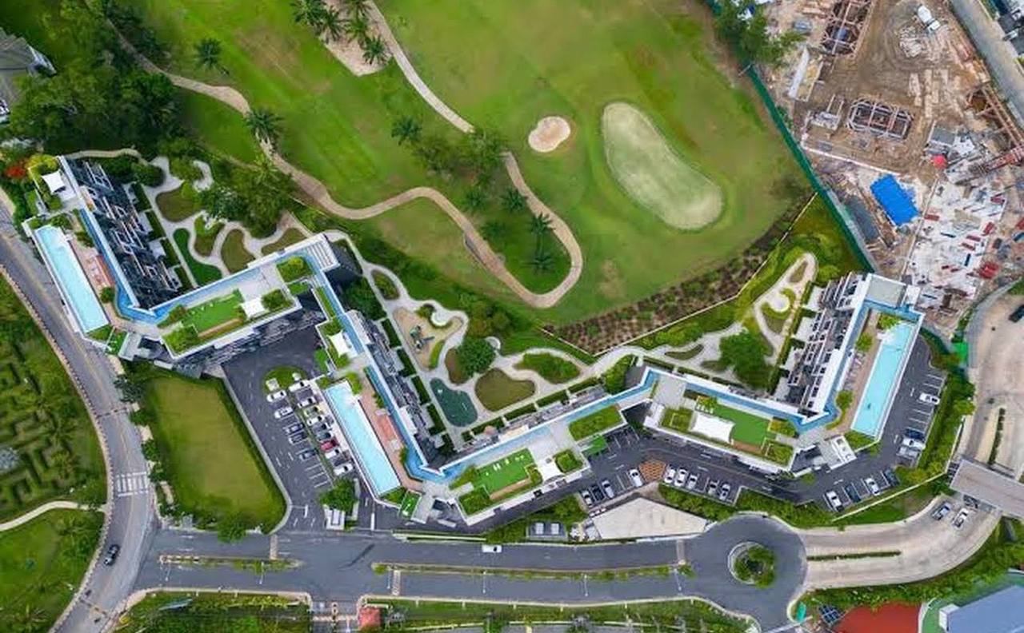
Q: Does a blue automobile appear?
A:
Yes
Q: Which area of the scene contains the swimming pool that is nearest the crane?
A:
right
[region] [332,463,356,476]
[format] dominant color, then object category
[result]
white vehicle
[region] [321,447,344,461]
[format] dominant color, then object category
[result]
white car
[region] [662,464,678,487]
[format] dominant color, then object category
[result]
white car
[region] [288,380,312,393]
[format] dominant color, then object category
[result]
white vehicle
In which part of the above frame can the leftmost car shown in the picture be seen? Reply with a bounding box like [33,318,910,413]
[102,543,120,566]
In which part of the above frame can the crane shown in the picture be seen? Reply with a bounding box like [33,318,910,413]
[958,142,1024,184]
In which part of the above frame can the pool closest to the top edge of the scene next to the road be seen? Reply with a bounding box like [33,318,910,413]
[31,221,113,334]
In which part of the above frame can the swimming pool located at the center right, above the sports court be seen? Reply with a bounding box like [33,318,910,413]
[848,320,922,438]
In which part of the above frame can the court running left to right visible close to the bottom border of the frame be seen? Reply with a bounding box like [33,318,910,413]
[830,589,979,633]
